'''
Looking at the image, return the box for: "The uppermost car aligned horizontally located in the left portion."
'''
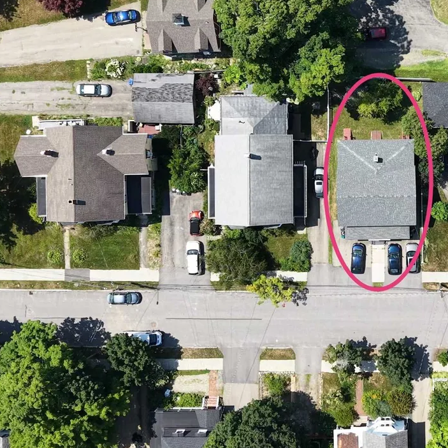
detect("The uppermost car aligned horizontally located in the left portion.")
[105,10,140,26]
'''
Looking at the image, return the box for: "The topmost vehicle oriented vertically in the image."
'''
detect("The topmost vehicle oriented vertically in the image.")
[312,166,326,198]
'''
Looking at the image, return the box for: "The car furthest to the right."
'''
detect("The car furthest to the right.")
[406,243,419,274]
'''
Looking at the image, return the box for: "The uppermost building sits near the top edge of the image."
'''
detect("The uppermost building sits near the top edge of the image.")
[145,0,222,54]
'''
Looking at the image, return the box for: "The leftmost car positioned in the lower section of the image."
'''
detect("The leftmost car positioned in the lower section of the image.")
[108,290,142,306]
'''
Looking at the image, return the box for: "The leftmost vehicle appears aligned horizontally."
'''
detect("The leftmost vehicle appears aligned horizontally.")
[76,82,112,98]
